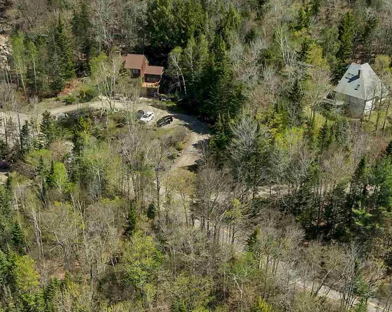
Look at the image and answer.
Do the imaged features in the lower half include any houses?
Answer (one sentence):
No, no house is visible in the lower half.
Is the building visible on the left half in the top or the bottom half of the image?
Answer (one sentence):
The building visible on the left half sits in the top half of the picture.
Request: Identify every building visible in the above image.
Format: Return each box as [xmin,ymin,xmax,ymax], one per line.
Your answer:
[124,57,163,88]
[328,61,390,115]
